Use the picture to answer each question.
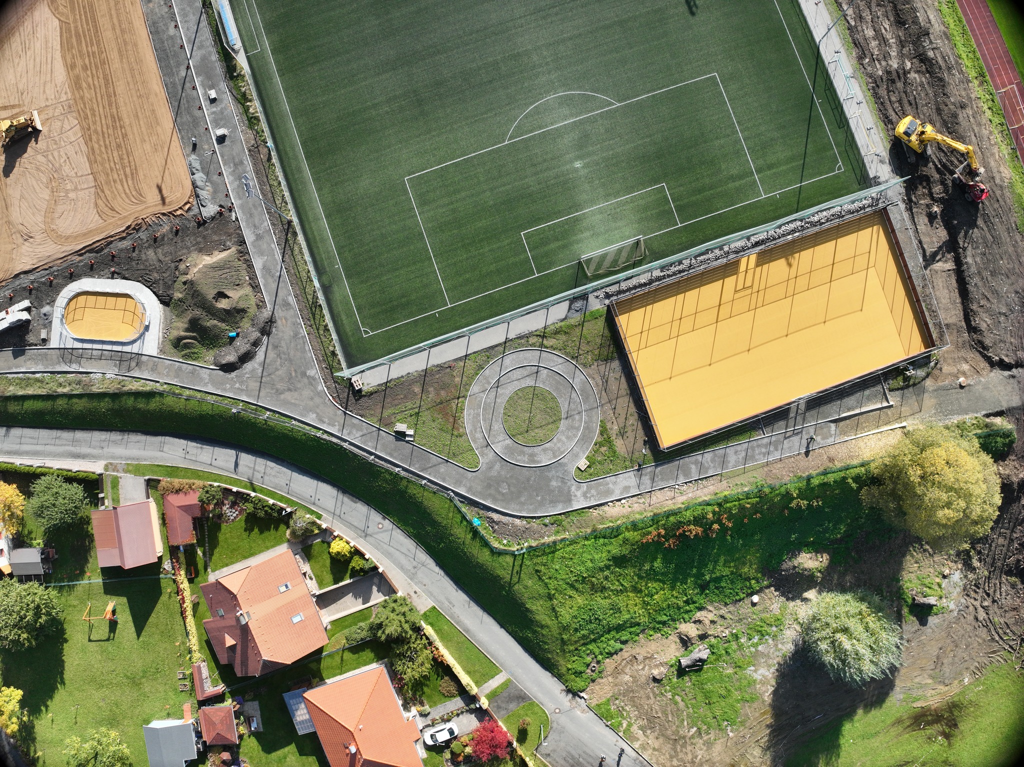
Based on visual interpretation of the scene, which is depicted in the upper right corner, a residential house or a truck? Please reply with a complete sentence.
You can see a truck in the upper right corner.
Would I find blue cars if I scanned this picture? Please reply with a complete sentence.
No, I find no blue car anywhere in the image.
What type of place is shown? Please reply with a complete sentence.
This looks like a sports ground.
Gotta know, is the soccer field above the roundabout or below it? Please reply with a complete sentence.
The soccer field appears above the roundabout in the picture.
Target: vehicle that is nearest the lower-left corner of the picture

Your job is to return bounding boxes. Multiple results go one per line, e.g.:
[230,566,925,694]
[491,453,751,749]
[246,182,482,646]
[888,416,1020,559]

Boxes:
[422,725,459,749]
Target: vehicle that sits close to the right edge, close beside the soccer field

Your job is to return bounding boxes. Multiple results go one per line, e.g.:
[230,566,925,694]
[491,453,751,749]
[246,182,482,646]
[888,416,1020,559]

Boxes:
[891,121,975,181]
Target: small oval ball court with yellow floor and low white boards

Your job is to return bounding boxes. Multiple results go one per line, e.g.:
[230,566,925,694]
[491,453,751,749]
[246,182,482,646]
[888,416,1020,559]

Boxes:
[53,288,146,340]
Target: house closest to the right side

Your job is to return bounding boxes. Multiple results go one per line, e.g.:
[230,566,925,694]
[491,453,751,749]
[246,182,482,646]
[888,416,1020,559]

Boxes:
[282,661,430,767]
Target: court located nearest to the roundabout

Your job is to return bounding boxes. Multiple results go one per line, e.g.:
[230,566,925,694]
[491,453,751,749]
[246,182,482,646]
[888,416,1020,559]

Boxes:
[608,201,949,451]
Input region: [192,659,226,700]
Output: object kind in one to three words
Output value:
shed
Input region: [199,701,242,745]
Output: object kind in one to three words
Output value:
gazebo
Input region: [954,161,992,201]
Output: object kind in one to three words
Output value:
truck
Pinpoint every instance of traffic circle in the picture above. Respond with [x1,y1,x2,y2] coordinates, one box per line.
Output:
[467,349,599,481]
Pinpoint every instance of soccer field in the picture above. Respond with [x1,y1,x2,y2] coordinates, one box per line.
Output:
[229,0,872,375]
